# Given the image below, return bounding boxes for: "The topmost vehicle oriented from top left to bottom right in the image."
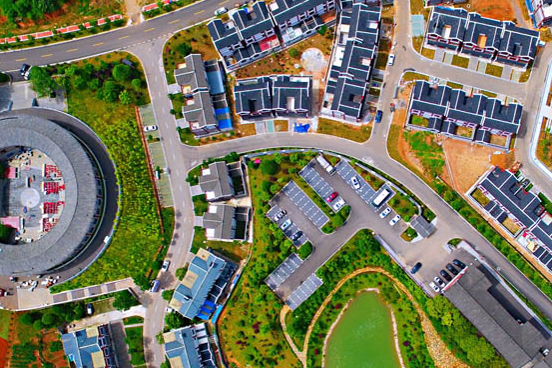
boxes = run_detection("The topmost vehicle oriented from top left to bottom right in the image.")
[314,153,331,172]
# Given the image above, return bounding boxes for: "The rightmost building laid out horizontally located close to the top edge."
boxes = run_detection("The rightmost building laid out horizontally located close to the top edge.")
[422,3,540,72]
